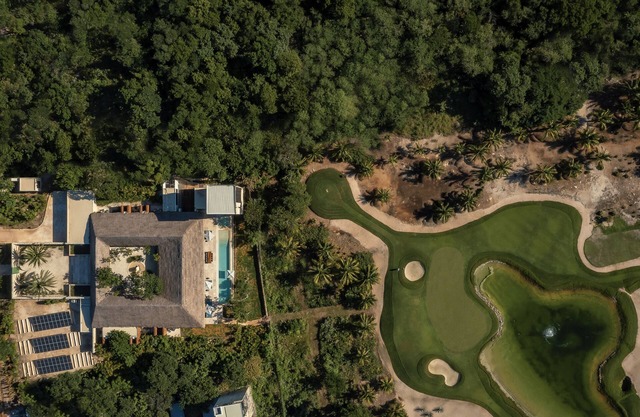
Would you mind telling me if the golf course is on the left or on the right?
right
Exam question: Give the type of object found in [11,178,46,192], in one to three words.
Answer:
shed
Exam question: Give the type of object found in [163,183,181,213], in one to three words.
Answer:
building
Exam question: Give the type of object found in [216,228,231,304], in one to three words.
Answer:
swimming pool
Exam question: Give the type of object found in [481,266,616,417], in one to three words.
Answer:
pond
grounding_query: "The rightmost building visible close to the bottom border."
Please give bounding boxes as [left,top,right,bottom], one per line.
[214,385,253,417]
